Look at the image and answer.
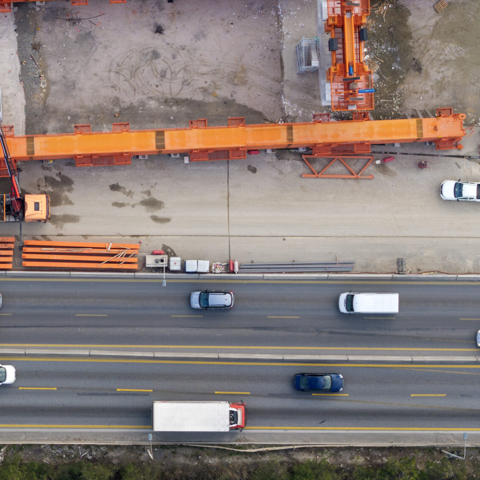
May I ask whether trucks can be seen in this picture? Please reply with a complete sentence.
Yes, a truck appears in the view.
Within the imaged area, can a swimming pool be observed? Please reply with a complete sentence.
No, the frame has no swimming pool in it.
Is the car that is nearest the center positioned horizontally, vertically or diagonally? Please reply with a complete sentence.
What the image shows is the car that is nearest the center lying horizontally.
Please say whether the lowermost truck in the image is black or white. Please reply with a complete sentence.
The lowermost truck is white.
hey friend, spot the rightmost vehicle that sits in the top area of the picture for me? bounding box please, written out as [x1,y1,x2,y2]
[439,179,480,202]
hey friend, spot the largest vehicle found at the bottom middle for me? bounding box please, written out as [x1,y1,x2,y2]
[152,402,246,435]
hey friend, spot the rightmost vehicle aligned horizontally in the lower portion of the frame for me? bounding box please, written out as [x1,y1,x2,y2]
[337,291,400,316]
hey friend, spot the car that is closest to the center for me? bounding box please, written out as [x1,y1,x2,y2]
[191,288,235,312]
